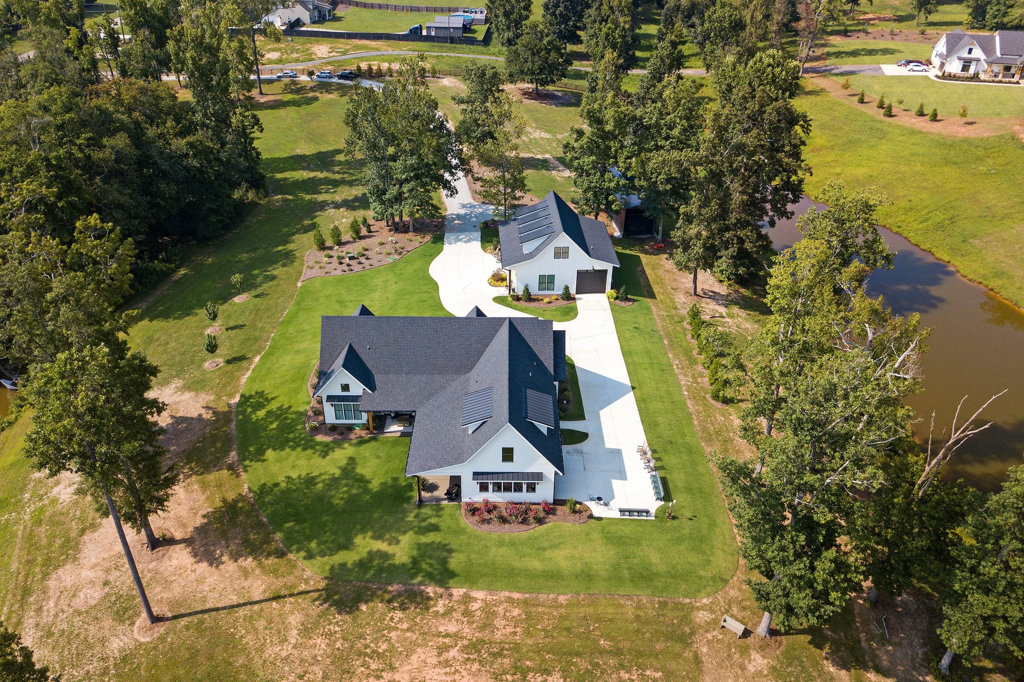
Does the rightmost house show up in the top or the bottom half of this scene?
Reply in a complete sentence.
The rightmost house sits in the top half of the picture.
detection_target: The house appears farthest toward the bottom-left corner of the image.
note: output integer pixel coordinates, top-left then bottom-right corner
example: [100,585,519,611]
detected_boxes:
[310,304,567,506]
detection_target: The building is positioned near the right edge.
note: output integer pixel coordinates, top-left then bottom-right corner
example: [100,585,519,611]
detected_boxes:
[914,27,1024,79]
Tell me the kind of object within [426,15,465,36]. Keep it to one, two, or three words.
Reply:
shed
